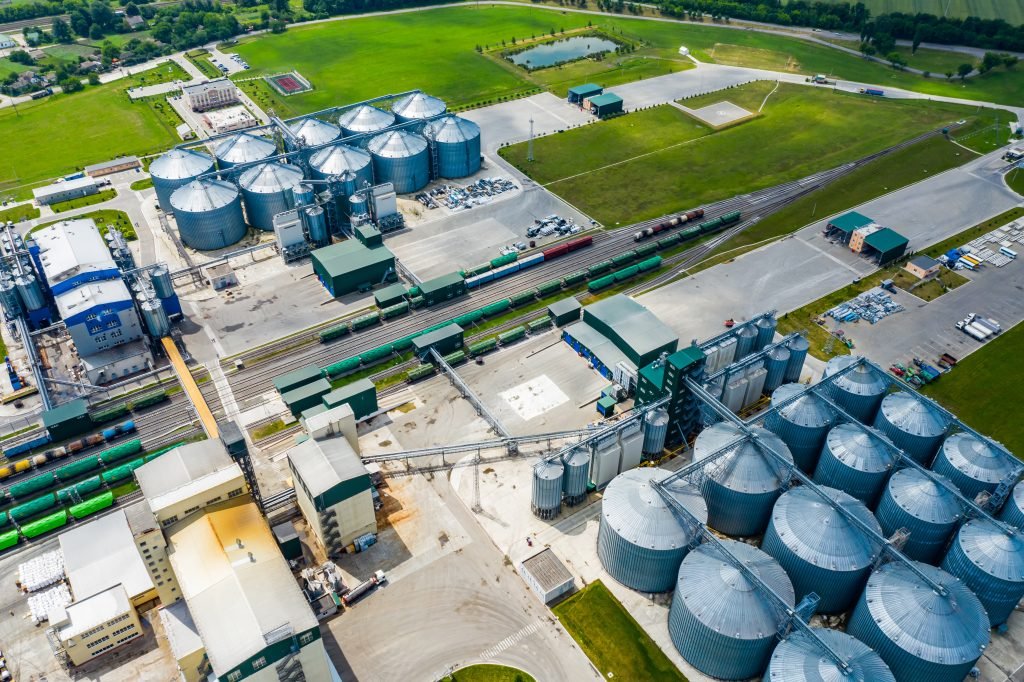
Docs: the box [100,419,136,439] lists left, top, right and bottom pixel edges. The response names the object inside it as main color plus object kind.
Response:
blue rail car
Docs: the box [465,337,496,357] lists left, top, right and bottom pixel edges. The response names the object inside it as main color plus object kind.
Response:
green rail car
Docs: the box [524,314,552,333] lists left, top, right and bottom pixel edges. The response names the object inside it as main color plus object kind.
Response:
green rail car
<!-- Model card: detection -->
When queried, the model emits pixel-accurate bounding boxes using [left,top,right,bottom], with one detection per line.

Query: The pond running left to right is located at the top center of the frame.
[513,36,618,69]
